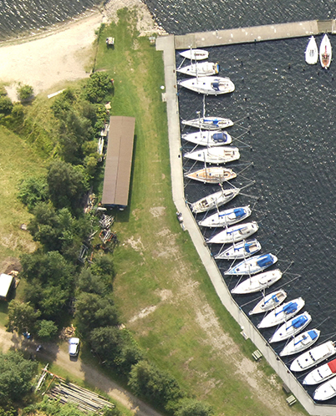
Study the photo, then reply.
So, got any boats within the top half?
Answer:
Yes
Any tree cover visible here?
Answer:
Yes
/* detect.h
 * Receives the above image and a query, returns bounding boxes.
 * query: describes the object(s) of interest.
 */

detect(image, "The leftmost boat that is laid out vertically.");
[305,36,319,68]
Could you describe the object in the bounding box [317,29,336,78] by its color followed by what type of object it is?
white boat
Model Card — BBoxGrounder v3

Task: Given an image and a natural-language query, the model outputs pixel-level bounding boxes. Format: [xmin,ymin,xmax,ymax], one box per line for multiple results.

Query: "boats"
[219,245,278,283]
[281,329,326,356]
[255,291,310,332]
[262,306,329,345]
[191,180,240,210]
[241,277,300,318]
[195,194,265,232]
[181,115,233,146]
[229,263,298,294]
[180,129,251,164]
[180,39,222,61]
[181,153,247,184]
[305,36,319,68]
[303,359,336,391]
[288,337,336,379]
[215,234,277,260]
[175,57,238,94]
[317,29,336,78]
[204,212,271,252]
[182,98,241,130]
[311,378,336,403]
[179,50,242,79]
